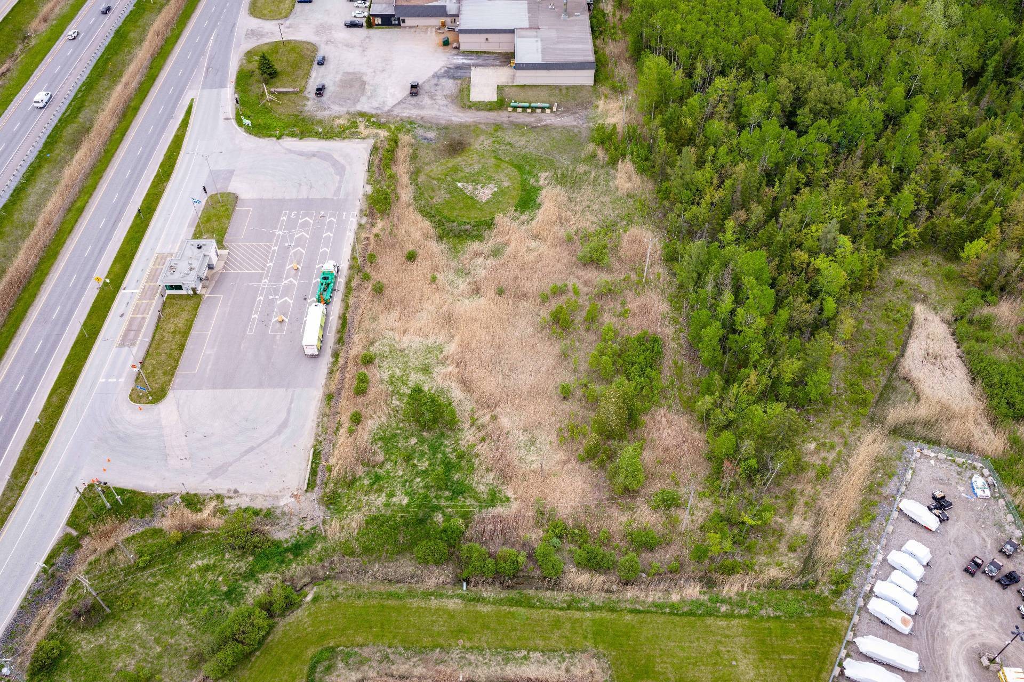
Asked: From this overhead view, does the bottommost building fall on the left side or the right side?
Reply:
left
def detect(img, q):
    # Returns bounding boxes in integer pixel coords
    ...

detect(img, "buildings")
[458,0,599,85]
[157,238,218,296]
[369,0,401,26]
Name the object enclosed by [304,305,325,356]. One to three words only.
truck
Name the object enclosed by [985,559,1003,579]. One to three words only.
vehicle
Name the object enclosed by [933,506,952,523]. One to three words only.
vehicle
